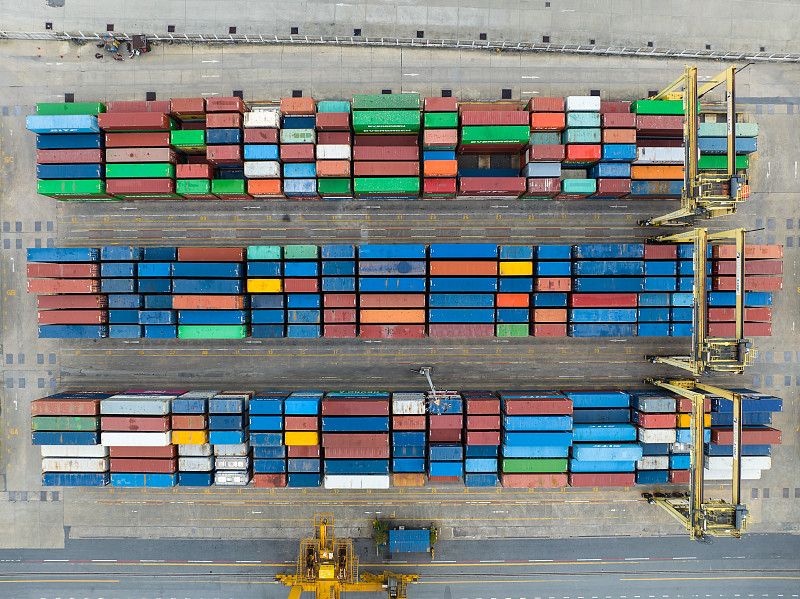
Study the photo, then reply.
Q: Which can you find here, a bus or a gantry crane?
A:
gantry crane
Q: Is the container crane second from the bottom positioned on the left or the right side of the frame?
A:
right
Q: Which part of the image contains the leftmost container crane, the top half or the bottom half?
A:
bottom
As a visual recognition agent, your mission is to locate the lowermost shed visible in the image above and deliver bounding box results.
[390,524,430,551]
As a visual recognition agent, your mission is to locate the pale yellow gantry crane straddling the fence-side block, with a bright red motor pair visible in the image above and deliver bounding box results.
[638,57,755,227]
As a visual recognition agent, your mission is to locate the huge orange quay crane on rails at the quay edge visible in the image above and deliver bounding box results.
[274,512,418,599]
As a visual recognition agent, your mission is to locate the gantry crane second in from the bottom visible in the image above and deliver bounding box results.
[644,375,760,540]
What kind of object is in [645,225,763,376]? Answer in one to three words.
container crane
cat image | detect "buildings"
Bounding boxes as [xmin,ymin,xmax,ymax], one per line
[131,35,148,52]
[390,524,430,551]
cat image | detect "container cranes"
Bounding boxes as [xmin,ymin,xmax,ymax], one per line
[638,57,755,227]
[644,375,760,540]
[645,225,763,376]
[274,512,418,599]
